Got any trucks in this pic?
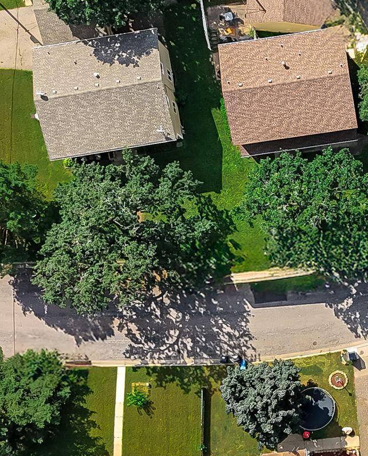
No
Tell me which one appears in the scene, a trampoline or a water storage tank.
trampoline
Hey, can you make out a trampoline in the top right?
No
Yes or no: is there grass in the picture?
Yes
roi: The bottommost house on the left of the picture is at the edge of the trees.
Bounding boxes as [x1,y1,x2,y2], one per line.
[32,26,187,169]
